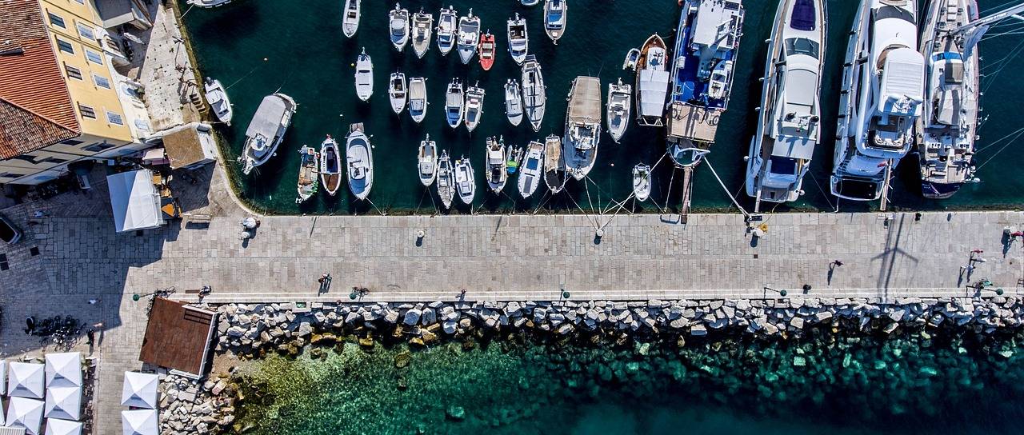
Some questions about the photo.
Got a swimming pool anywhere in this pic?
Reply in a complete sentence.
No, this view has no swimming pool in it.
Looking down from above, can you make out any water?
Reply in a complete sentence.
Yes, water shows up in the scene.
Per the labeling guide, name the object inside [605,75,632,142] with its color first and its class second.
white boat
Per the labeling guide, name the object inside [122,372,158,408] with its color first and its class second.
white umbrella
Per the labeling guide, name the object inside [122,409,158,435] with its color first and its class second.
white umbrella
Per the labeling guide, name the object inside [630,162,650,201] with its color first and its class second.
white boat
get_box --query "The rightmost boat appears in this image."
[914,0,1024,199]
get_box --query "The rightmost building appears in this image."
[146,123,229,172]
